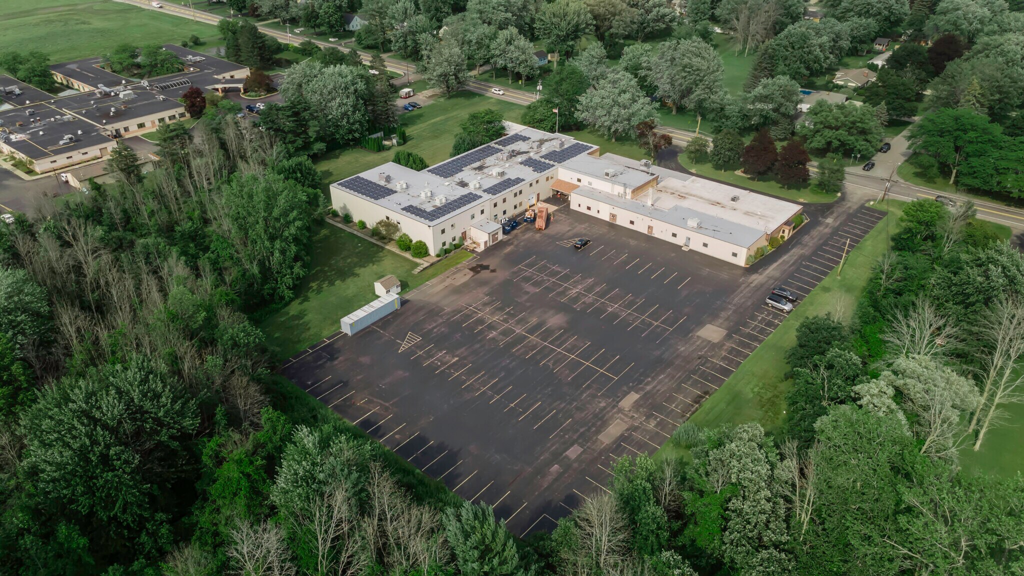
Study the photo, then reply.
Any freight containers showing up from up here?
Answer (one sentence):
Yes, there's a freight container here.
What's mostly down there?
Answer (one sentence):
What you mostly see from above here is trees.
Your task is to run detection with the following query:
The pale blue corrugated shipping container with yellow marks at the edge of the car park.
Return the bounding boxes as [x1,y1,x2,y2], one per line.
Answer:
[344,291,404,335]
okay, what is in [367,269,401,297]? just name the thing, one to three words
shed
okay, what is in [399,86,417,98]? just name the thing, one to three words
vehicle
